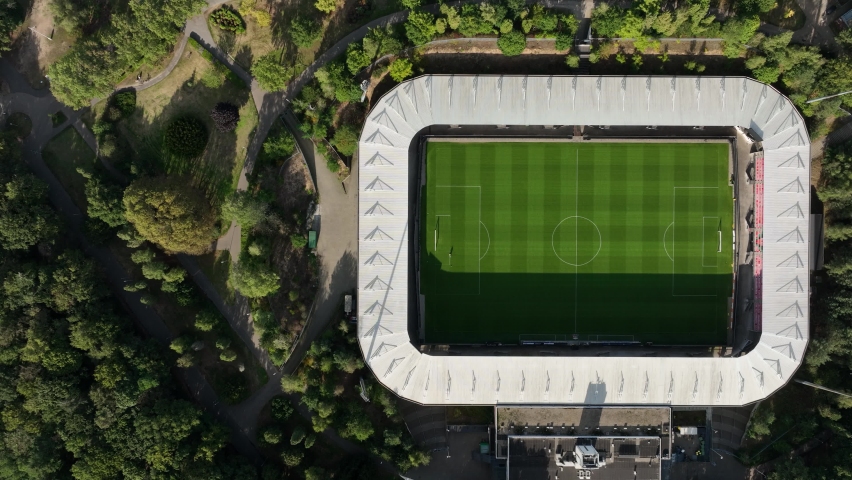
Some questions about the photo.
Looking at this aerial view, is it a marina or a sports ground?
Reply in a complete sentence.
This looks like a sports ground.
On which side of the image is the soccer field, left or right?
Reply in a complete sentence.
It is on the right.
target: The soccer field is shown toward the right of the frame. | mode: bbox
[420,138,733,346]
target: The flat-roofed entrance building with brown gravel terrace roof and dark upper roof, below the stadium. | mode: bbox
[493,408,672,480]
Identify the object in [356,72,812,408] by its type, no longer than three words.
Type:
stadium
